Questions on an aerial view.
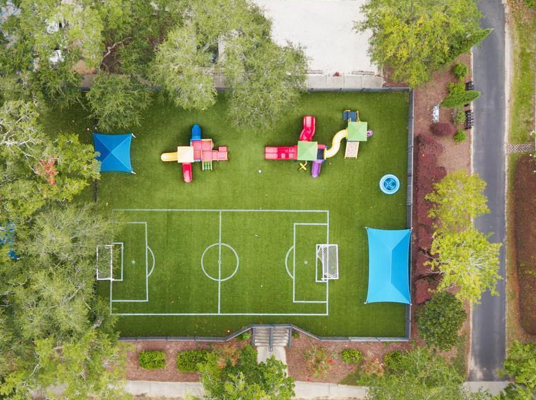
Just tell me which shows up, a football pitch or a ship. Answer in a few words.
football pitch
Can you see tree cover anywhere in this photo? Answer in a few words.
Yes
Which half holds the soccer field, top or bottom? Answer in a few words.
bottom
